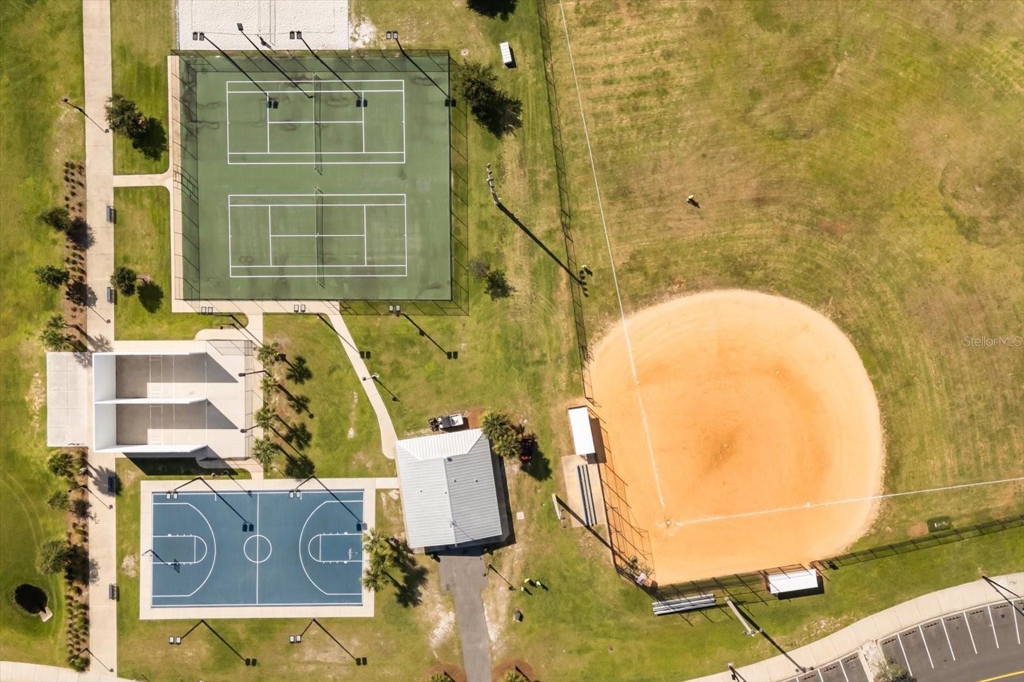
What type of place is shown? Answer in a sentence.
The picture captures a sports ground.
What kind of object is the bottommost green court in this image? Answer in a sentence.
Specifically, the bottommost green court is a tennis court.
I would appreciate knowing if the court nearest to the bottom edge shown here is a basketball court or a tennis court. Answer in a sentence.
It looks like the court nearest to the bottom edge is a basketball court.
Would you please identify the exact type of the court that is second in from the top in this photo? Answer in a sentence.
The court that is second in from the top is a tennis court.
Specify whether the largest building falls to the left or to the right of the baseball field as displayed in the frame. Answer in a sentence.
Relative to the baseball field, the largest building lies to the left.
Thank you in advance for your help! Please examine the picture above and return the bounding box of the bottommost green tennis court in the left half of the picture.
[181,178,453,300]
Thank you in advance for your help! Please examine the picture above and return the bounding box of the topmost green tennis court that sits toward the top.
[179,56,452,178]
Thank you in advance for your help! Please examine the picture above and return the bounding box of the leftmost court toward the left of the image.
[93,340,252,459]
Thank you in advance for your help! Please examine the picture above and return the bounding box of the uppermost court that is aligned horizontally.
[176,0,350,49]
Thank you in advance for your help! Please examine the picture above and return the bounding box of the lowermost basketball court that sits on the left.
[151,490,363,608]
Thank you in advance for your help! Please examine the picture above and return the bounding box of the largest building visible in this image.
[396,429,502,548]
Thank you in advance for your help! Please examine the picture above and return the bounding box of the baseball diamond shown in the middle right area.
[541,0,1024,590]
